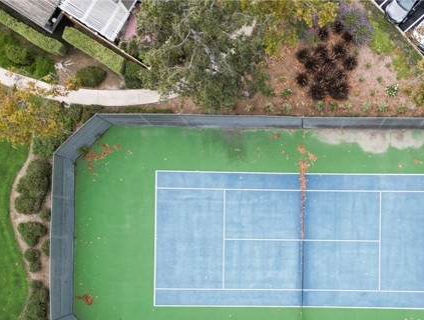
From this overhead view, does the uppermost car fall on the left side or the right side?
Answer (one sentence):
You can find the uppermost car on the right side of the picture.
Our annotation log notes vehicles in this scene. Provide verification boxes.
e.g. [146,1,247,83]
[385,0,424,24]
[410,16,424,52]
